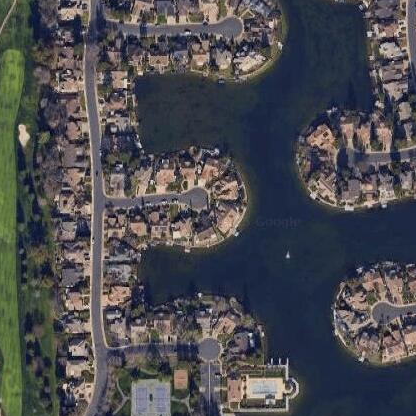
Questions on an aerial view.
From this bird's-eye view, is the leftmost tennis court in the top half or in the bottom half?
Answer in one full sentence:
You can find the leftmost tennis court in the bottom half.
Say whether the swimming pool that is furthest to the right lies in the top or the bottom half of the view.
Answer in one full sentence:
You can find the swimming pool that is furthest to the right in the bottom half.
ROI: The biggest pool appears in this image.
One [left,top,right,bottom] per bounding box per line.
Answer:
[242,375,285,399]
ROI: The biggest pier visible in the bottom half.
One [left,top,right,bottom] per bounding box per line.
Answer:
[240,358,299,411]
